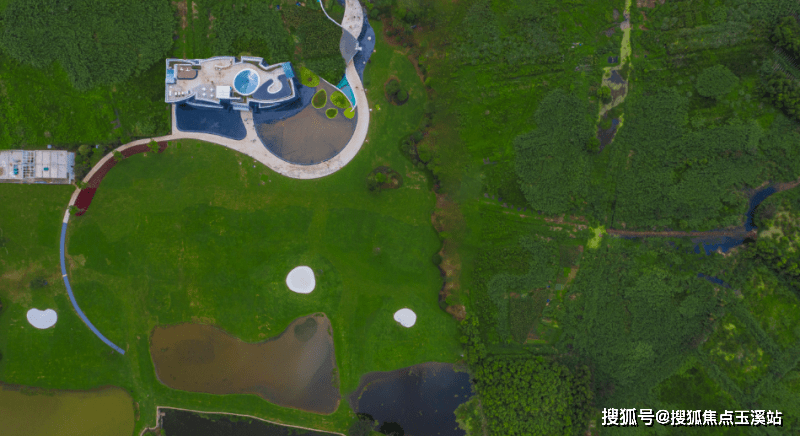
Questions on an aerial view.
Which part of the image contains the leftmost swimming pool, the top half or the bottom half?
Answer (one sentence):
The leftmost swimming pool sits in the top half of the picture.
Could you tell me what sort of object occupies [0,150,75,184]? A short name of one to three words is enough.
building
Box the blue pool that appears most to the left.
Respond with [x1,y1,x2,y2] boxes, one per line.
[177,102,246,139]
